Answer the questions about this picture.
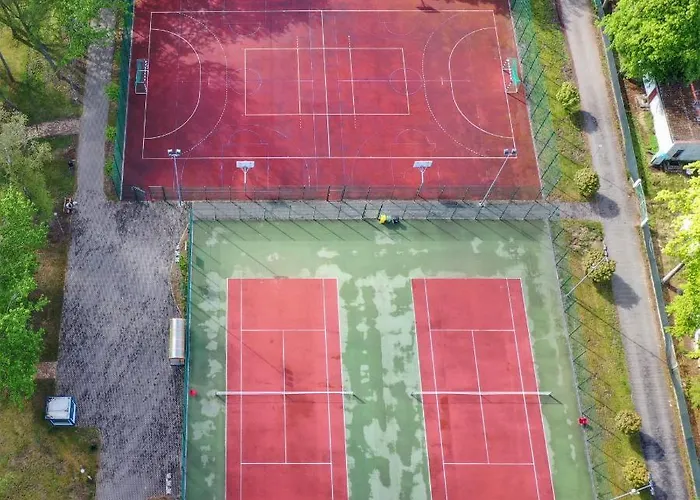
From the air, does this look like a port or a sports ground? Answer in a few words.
sports ground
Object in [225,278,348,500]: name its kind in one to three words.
tennis court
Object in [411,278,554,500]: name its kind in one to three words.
tennis court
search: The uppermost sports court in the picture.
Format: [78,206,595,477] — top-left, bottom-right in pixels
[120,0,543,201]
